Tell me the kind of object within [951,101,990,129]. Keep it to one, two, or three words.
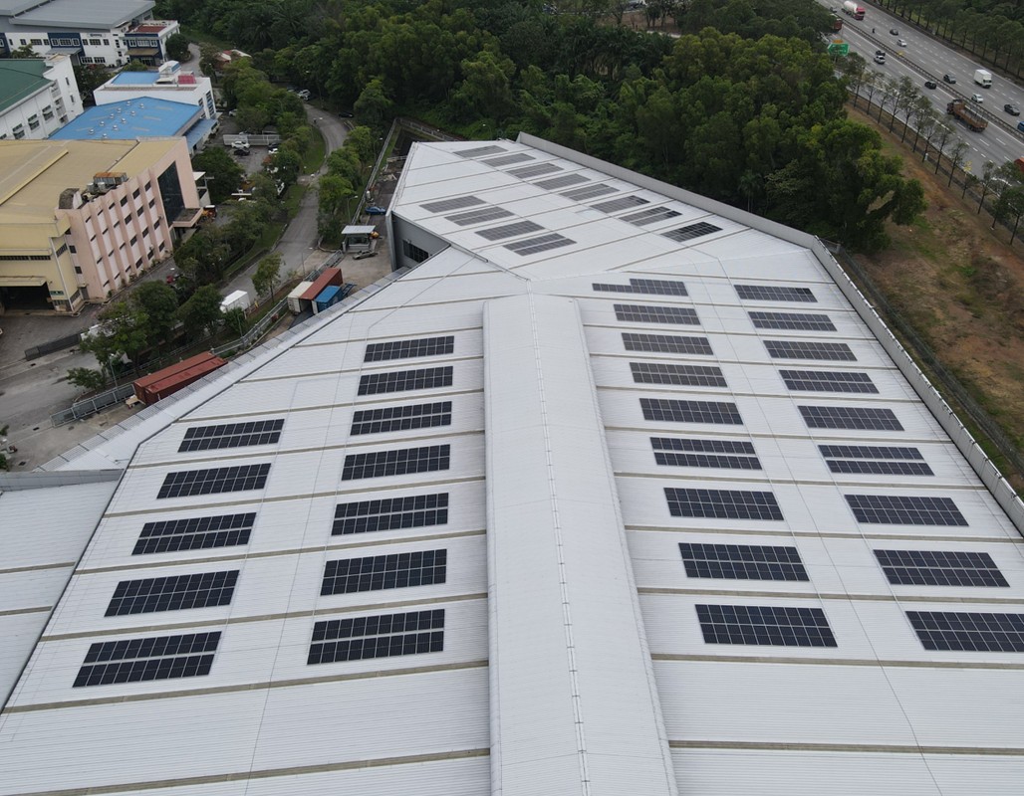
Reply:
truck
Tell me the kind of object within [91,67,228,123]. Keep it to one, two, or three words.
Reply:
building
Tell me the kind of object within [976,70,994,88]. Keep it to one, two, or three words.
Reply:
vehicle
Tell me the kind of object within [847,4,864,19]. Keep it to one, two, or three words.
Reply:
vehicle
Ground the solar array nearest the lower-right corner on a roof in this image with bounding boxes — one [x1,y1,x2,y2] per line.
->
[905,609,1024,650]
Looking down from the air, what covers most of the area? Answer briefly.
buildings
